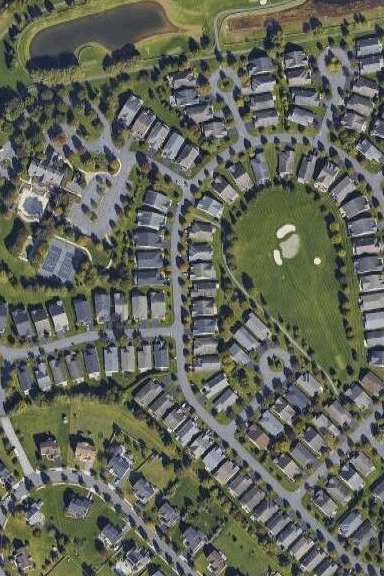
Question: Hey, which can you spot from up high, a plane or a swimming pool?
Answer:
swimming pool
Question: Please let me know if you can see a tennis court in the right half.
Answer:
No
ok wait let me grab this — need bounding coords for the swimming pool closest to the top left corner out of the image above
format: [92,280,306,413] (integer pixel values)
[19,185,49,223]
